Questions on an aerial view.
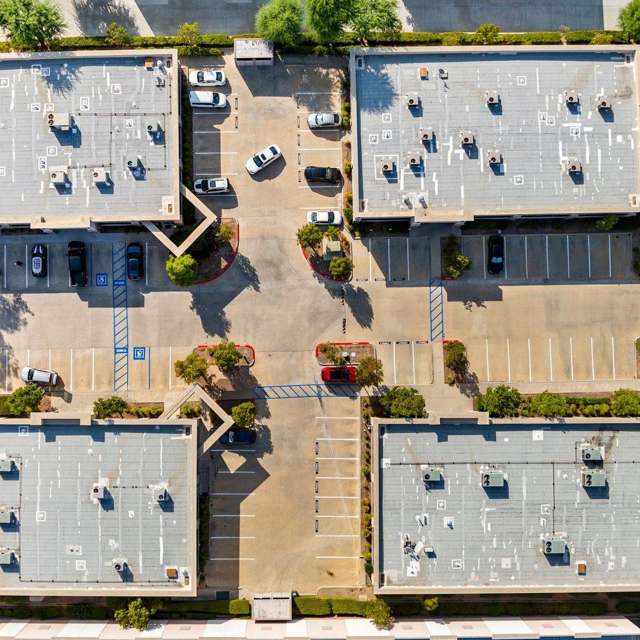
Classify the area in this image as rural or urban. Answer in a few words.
urban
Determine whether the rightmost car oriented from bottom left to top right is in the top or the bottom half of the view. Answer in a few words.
top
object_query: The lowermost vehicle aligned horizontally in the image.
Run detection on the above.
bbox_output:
[219,428,255,445]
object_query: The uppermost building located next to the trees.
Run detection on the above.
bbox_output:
[234,38,273,67]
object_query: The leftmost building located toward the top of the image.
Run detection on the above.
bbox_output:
[0,49,217,256]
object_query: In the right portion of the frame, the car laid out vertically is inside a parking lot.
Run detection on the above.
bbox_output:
[487,236,504,272]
